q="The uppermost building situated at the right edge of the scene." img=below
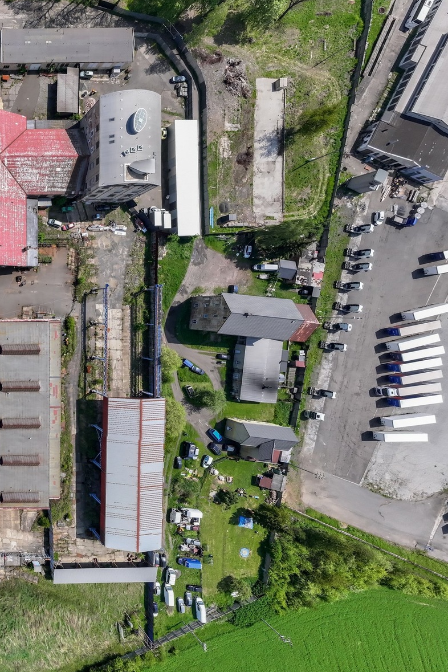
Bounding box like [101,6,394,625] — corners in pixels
[377,0,448,134]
